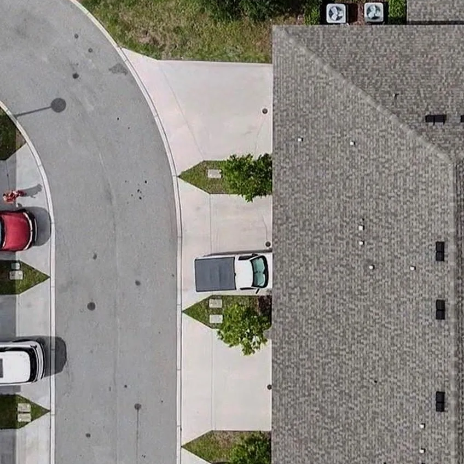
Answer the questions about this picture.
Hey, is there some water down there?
No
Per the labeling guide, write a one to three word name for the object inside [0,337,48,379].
car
